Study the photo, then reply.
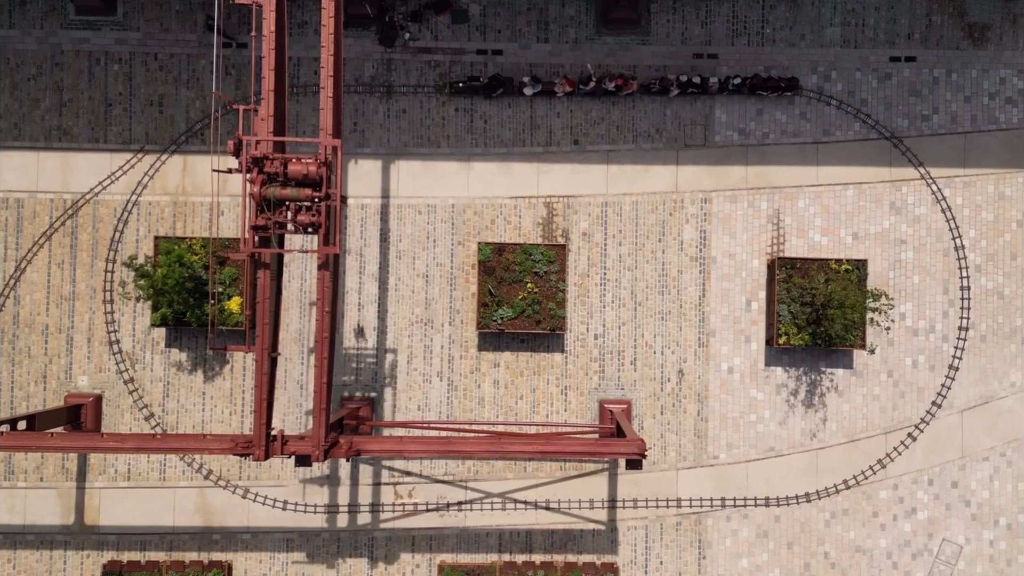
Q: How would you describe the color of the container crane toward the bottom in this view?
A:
red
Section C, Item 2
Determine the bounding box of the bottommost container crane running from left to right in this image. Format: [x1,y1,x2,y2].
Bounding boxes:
[0,390,650,457]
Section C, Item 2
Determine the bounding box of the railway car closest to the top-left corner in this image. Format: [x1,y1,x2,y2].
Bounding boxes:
[449,75,482,97]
